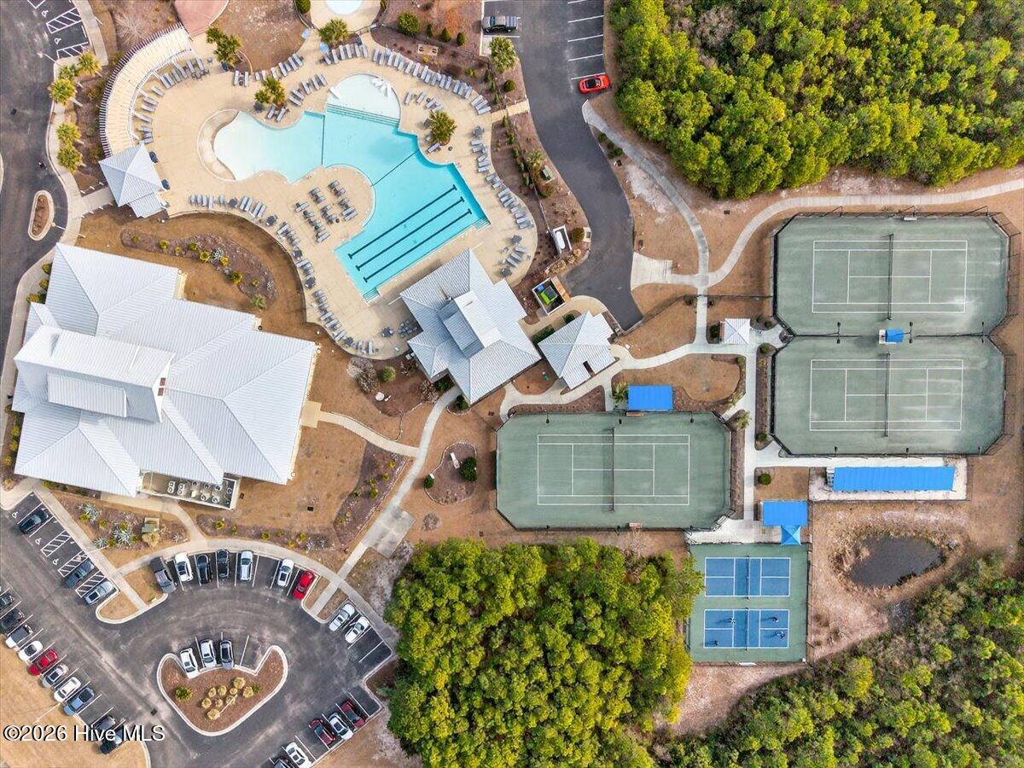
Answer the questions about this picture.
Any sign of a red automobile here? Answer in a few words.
Yes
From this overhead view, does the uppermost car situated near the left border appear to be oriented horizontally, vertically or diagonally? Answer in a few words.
diagonally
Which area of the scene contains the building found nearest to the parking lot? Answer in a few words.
left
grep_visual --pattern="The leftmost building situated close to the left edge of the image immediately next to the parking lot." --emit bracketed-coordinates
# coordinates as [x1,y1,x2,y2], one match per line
[11,244,317,511]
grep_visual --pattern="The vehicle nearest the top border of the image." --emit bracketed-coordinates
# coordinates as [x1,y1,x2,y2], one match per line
[482,15,519,33]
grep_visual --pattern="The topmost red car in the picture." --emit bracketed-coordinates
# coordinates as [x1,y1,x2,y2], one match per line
[579,74,611,93]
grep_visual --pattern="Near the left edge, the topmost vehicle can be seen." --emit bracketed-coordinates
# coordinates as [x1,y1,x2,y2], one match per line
[19,507,52,534]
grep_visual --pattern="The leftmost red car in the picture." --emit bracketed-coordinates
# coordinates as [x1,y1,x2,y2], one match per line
[30,648,61,674]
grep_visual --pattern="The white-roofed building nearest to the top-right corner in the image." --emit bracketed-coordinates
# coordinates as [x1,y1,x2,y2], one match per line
[719,318,751,344]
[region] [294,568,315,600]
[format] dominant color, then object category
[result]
red car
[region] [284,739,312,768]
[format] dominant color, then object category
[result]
white car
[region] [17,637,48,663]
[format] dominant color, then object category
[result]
white car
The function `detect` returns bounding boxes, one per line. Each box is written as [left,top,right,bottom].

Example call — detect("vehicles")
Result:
[328,710,355,740]
[173,551,193,583]
[327,602,357,631]
[41,661,72,688]
[66,686,97,713]
[238,549,255,581]
[0,605,30,632]
[482,15,519,33]
[86,579,118,605]
[343,614,372,643]
[579,74,611,93]
[294,568,315,600]
[17,637,48,663]
[277,557,295,588]
[53,674,85,703]
[194,552,213,584]
[201,636,218,669]
[284,739,312,768]
[219,638,235,669]
[64,560,95,586]
[214,547,231,579]
[88,711,120,739]
[156,556,178,592]
[339,698,366,730]
[309,716,337,748]
[19,507,52,534]
[30,648,61,674]
[4,621,37,649]
[100,723,132,751]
